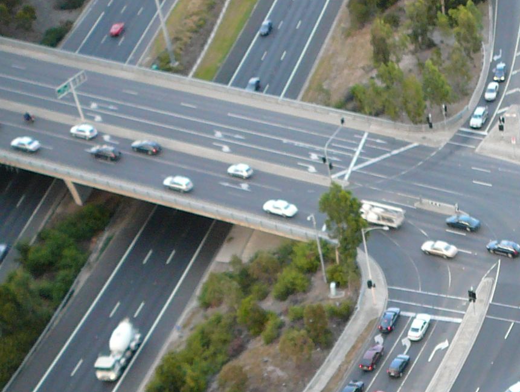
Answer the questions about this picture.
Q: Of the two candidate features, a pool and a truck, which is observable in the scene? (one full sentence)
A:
Looking from above, you can make out a truck.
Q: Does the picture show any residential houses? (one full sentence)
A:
No, I can see no residential house in this picture.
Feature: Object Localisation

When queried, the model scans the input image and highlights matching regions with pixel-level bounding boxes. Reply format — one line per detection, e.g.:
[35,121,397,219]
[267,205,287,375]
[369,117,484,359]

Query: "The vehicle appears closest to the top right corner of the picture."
[493,63,506,82]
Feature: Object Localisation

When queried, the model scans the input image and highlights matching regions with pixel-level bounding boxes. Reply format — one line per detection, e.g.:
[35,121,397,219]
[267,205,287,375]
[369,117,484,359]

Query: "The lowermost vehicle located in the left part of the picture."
[92,316,138,380]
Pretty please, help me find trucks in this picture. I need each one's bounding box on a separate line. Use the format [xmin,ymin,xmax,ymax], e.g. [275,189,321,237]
[92,316,138,380]
[356,198,411,229]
